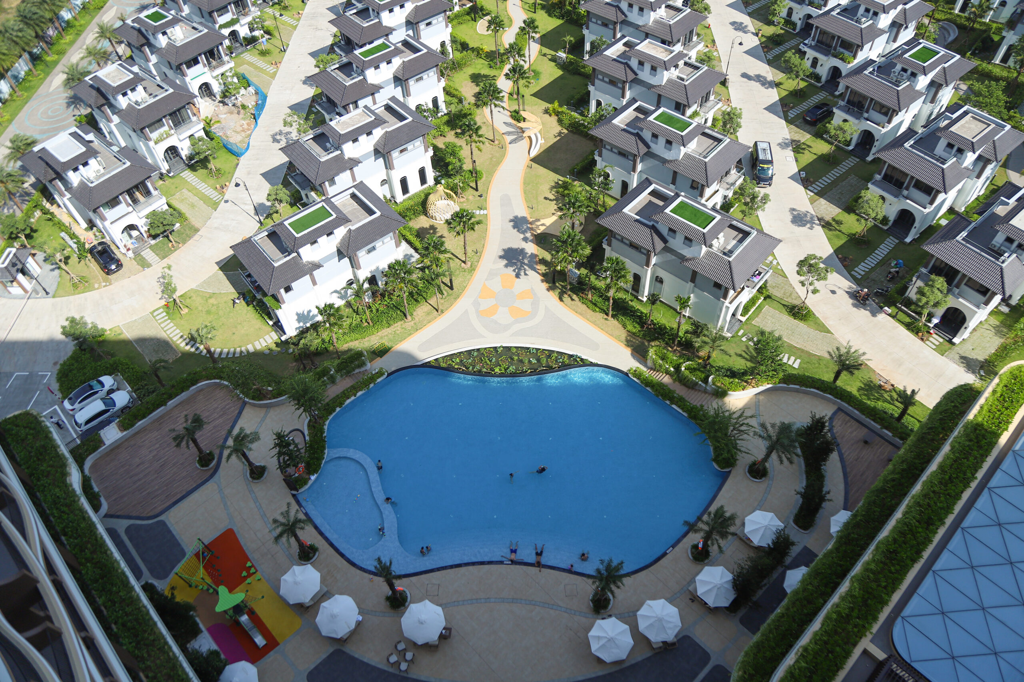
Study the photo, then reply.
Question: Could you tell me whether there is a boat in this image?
No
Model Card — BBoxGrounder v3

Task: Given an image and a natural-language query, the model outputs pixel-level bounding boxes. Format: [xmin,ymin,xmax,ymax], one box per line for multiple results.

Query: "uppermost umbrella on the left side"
[277,565,320,606]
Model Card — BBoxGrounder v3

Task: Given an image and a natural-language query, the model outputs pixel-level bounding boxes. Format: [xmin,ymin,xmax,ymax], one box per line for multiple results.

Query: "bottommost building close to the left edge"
[0,437,139,682]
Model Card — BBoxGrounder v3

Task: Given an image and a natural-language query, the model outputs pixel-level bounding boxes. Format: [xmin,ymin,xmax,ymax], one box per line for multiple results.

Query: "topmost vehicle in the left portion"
[84,241,120,275]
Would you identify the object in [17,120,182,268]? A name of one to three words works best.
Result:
house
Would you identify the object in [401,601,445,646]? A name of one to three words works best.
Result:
umbrella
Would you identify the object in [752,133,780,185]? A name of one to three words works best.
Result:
van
